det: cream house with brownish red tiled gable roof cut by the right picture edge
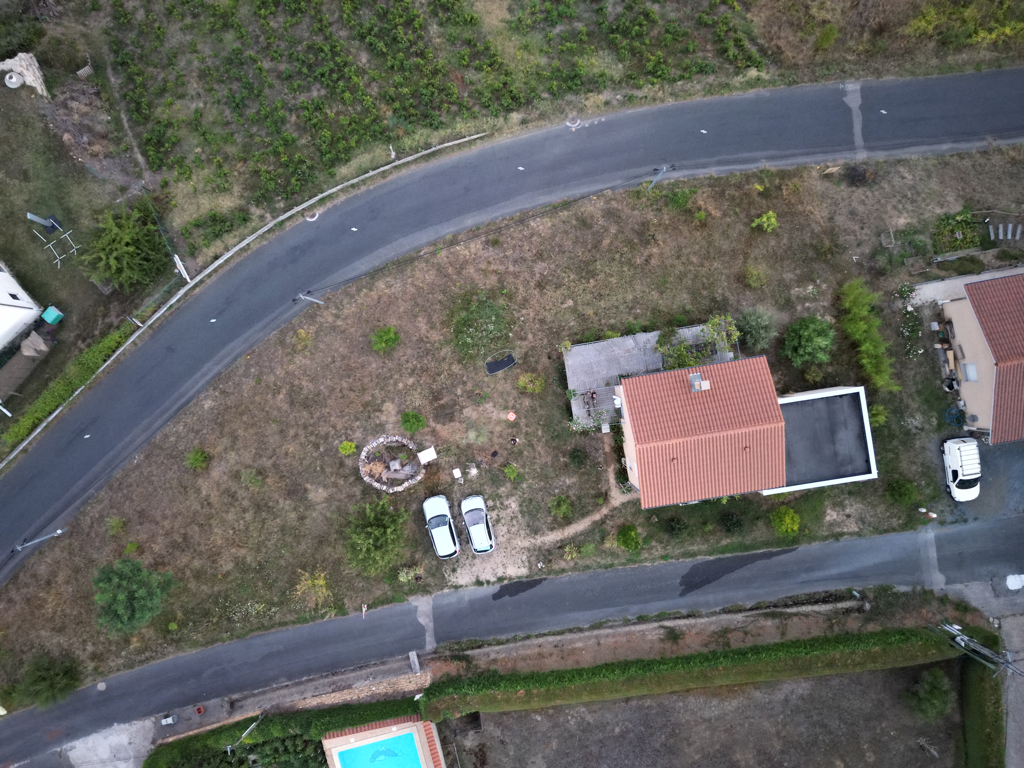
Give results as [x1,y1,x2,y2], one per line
[942,272,1024,446]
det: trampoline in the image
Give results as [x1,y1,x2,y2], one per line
[484,350,517,375]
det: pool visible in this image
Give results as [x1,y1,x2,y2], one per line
[322,721,433,768]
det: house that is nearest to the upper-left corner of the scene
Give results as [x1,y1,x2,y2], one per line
[0,264,44,349]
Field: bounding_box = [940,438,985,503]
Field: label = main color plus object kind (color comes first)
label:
white van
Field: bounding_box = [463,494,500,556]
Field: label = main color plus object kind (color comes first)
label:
white car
